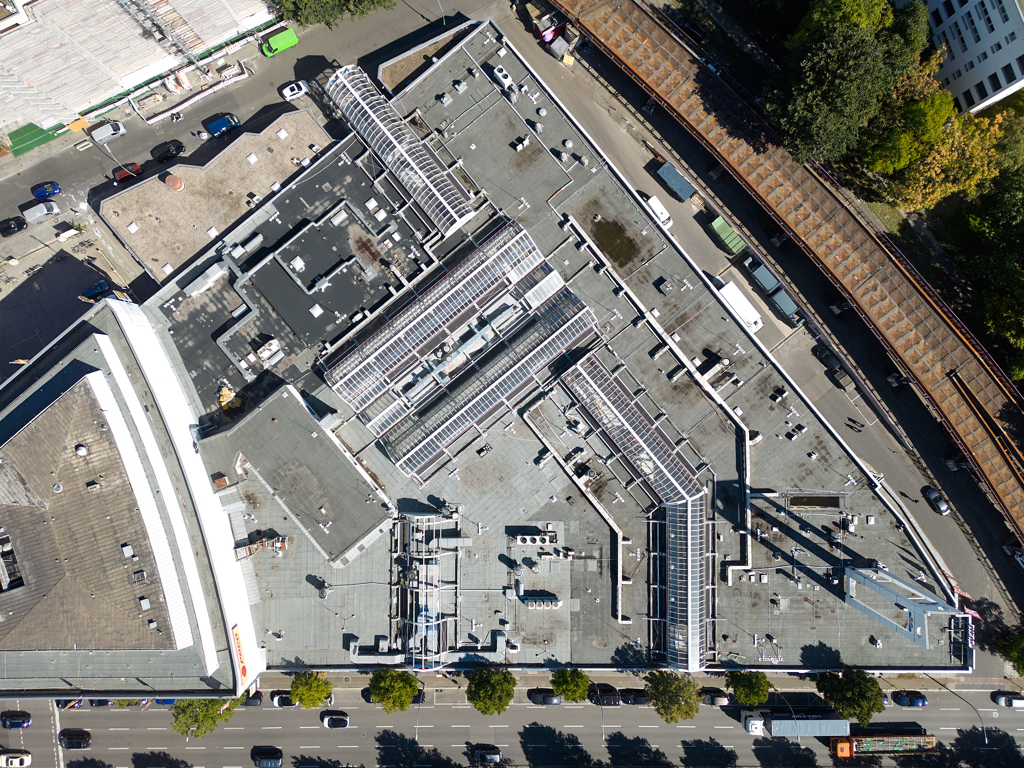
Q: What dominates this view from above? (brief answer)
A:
buildings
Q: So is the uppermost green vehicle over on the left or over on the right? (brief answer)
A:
left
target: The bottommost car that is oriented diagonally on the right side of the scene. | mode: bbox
[925,485,951,515]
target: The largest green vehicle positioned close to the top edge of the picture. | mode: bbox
[263,28,300,54]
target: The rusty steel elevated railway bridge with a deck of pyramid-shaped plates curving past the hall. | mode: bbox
[539,0,1024,549]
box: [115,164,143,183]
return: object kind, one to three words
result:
car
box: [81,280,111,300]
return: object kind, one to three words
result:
car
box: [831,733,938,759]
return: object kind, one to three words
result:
truck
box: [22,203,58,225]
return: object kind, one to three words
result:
vehicle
